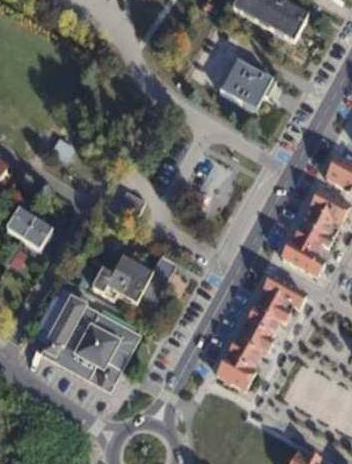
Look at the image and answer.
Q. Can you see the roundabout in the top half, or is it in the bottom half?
bottom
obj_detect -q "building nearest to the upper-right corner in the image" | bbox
[232,0,309,48]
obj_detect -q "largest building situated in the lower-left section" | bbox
[30,295,141,395]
